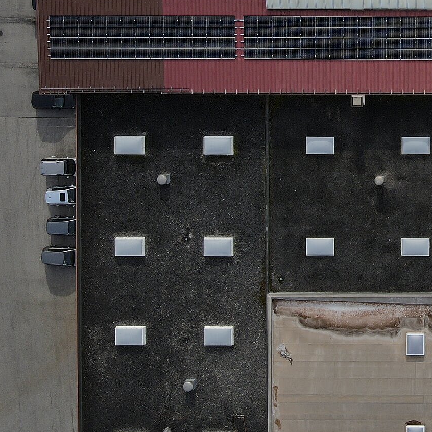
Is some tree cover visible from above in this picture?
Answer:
No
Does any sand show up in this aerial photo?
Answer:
No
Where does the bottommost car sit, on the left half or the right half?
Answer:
left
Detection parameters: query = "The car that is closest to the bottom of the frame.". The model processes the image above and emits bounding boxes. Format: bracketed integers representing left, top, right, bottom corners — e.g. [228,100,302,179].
[40,242,78,265]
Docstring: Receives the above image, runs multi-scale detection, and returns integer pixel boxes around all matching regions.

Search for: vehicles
[27,92,78,115]
[40,242,78,265]
[44,185,78,206]
[38,153,78,179]
[45,214,78,235]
